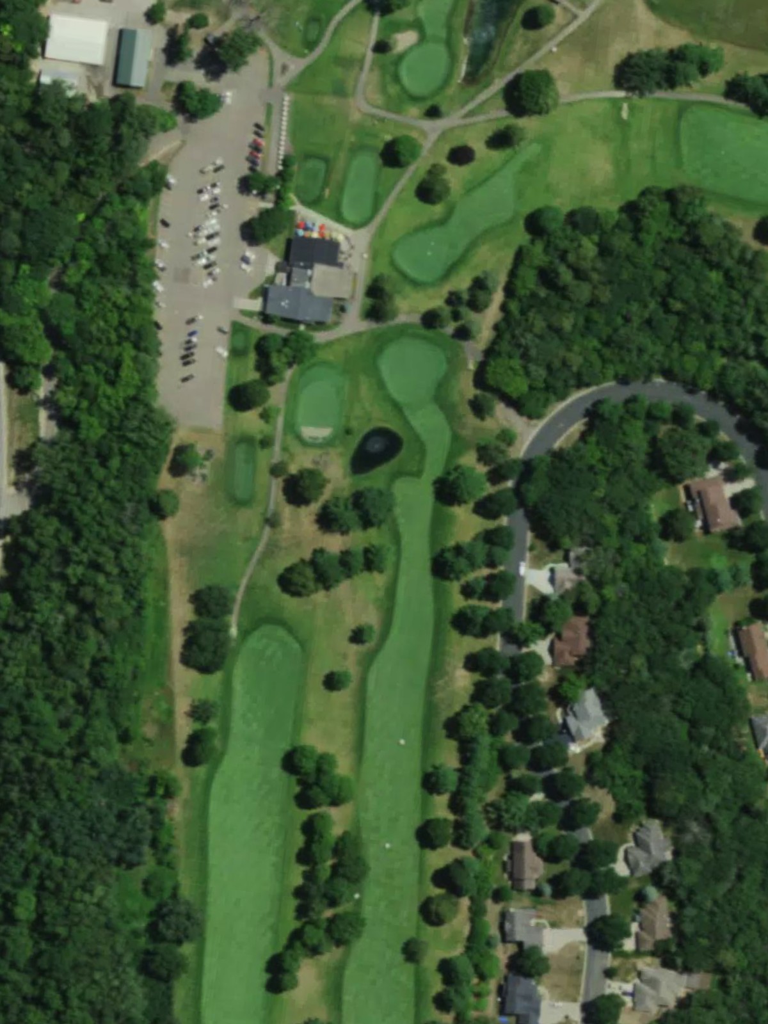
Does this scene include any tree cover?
Yes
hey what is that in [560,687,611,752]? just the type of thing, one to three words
house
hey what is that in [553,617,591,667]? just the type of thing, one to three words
house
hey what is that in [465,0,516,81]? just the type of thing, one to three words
pond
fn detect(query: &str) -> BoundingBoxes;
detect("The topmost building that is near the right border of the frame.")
[688,476,742,534]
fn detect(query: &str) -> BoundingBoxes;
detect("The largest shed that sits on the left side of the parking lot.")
[45,14,108,66]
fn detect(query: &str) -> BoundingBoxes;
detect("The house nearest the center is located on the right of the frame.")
[554,549,580,590]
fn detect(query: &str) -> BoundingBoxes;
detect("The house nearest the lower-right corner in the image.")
[631,961,712,1013]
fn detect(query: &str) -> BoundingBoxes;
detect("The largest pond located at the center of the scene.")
[350,426,404,475]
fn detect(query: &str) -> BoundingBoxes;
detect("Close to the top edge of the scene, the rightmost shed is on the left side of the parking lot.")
[116,28,151,88]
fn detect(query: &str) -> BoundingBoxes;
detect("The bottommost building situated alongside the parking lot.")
[265,238,352,324]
